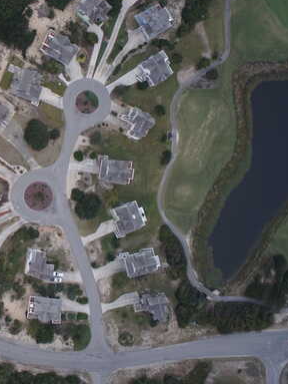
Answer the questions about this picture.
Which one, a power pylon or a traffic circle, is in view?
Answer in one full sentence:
The one in the frame is a traffic circle.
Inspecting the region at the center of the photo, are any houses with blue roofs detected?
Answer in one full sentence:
No, no house with a blue roof can be made out at the center of the photo.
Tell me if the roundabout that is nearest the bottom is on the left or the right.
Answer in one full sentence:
You can find the roundabout that is nearest the bottom on the left side of the picture.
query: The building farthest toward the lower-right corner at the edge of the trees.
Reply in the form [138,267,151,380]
[132,293,166,320]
